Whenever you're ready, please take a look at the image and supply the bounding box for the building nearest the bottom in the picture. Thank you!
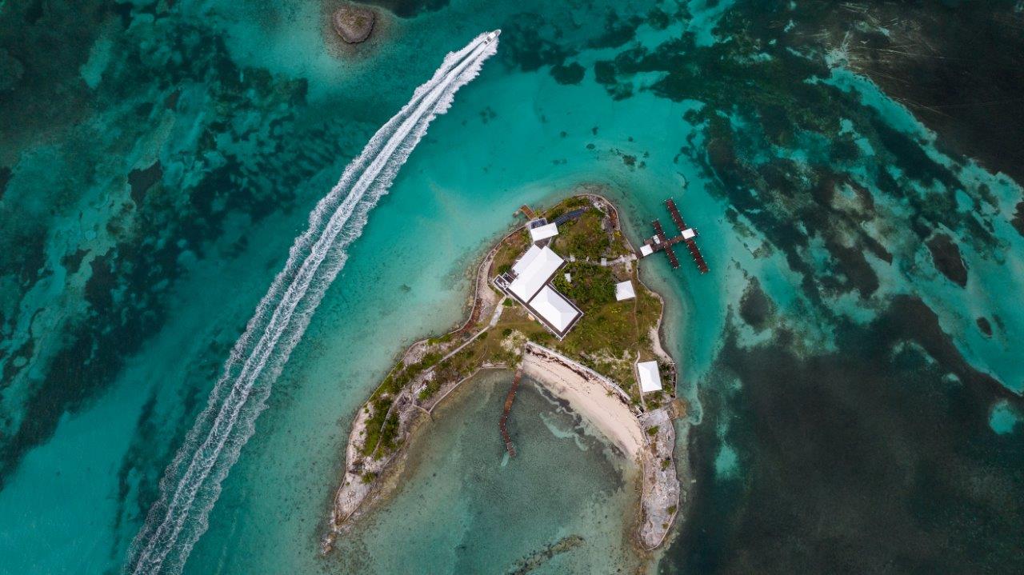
[637,361,662,392]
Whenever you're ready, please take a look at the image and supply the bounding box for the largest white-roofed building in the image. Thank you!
[493,237,584,341]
